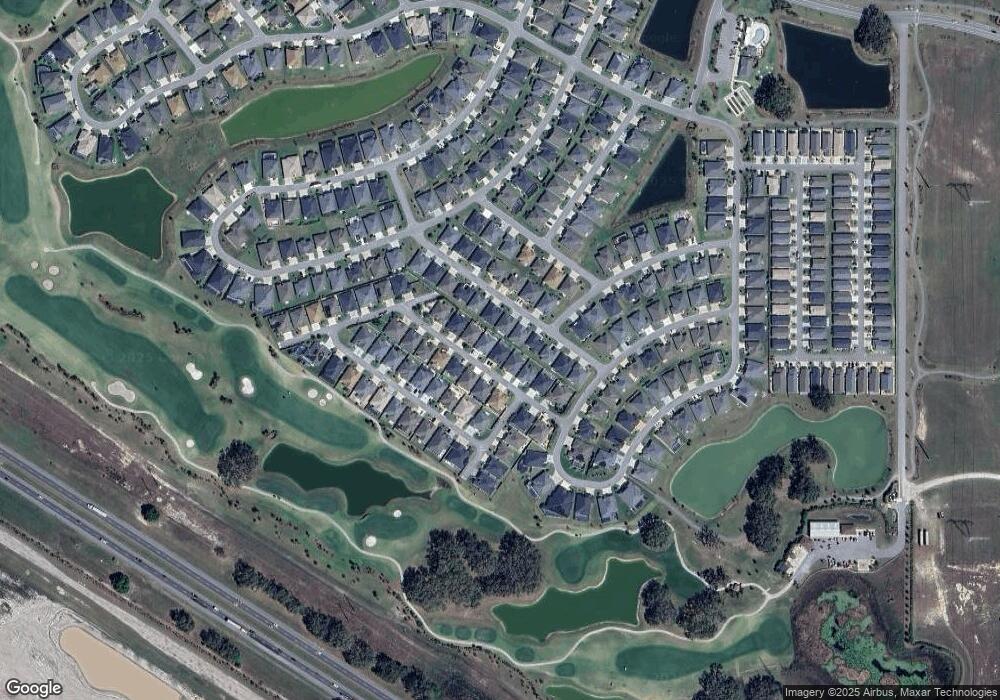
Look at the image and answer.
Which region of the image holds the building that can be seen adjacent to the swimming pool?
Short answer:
top right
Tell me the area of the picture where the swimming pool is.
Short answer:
top right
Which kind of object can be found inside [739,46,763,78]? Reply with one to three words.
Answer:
building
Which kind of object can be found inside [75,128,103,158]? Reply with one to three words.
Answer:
house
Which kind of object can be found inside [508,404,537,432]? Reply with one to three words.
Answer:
house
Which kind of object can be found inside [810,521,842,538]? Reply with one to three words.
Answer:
barn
